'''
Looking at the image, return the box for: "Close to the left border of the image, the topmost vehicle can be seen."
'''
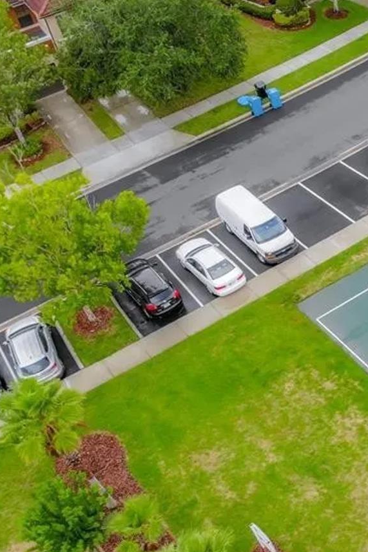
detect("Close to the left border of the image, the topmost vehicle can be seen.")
[4,320,75,384]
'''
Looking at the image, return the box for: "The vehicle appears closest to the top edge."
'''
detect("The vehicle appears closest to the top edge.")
[214,187,299,268]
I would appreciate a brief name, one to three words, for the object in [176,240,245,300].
car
